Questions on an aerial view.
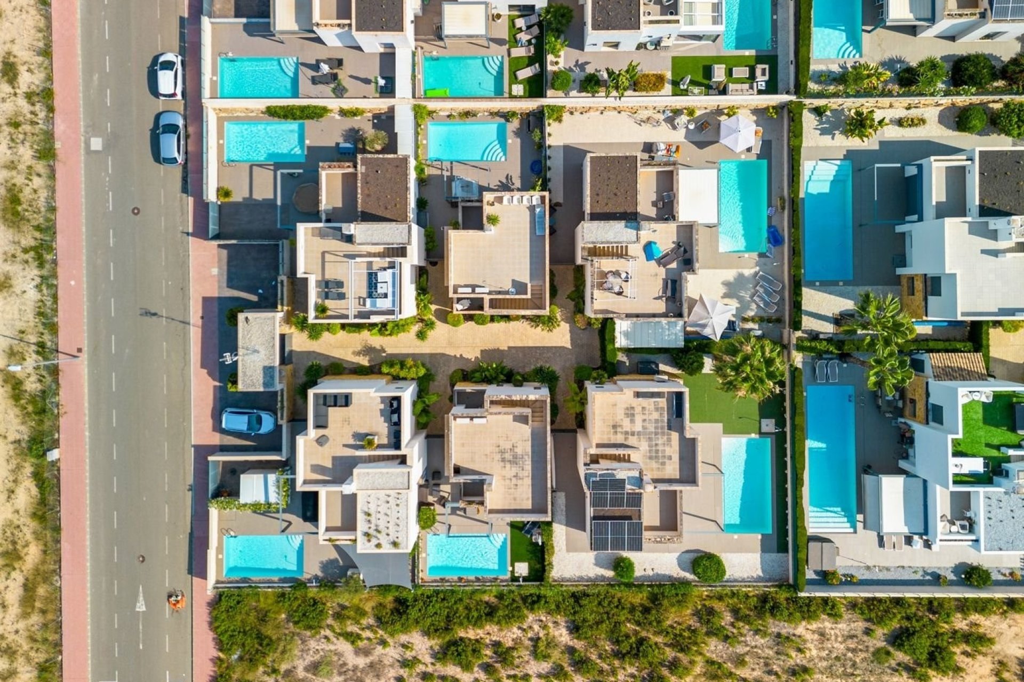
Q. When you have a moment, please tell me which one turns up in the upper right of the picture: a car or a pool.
pool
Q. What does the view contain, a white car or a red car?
white car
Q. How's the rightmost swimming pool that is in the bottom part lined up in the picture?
up and down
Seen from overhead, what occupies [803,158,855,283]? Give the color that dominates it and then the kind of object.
blue swimming pool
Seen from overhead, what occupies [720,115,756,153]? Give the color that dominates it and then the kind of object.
white umbrella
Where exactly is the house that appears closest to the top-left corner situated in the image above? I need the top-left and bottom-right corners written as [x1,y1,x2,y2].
[312,0,414,51]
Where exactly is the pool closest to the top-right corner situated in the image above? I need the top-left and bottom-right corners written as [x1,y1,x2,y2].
[811,0,864,60]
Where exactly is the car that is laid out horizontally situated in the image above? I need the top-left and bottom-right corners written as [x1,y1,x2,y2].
[221,408,276,435]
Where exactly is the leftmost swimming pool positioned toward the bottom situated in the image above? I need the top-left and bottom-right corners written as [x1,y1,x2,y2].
[222,530,305,580]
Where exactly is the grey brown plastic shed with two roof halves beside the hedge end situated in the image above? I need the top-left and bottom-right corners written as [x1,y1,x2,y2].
[803,535,836,569]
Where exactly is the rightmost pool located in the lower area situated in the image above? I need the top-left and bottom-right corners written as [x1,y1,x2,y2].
[806,384,866,535]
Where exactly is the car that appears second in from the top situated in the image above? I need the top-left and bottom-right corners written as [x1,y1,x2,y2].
[158,112,186,164]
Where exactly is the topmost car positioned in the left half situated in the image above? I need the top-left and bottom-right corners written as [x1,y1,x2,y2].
[157,53,185,100]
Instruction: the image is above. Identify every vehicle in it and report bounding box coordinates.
[221,408,276,435]
[157,53,185,100]
[158,112,186,164]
